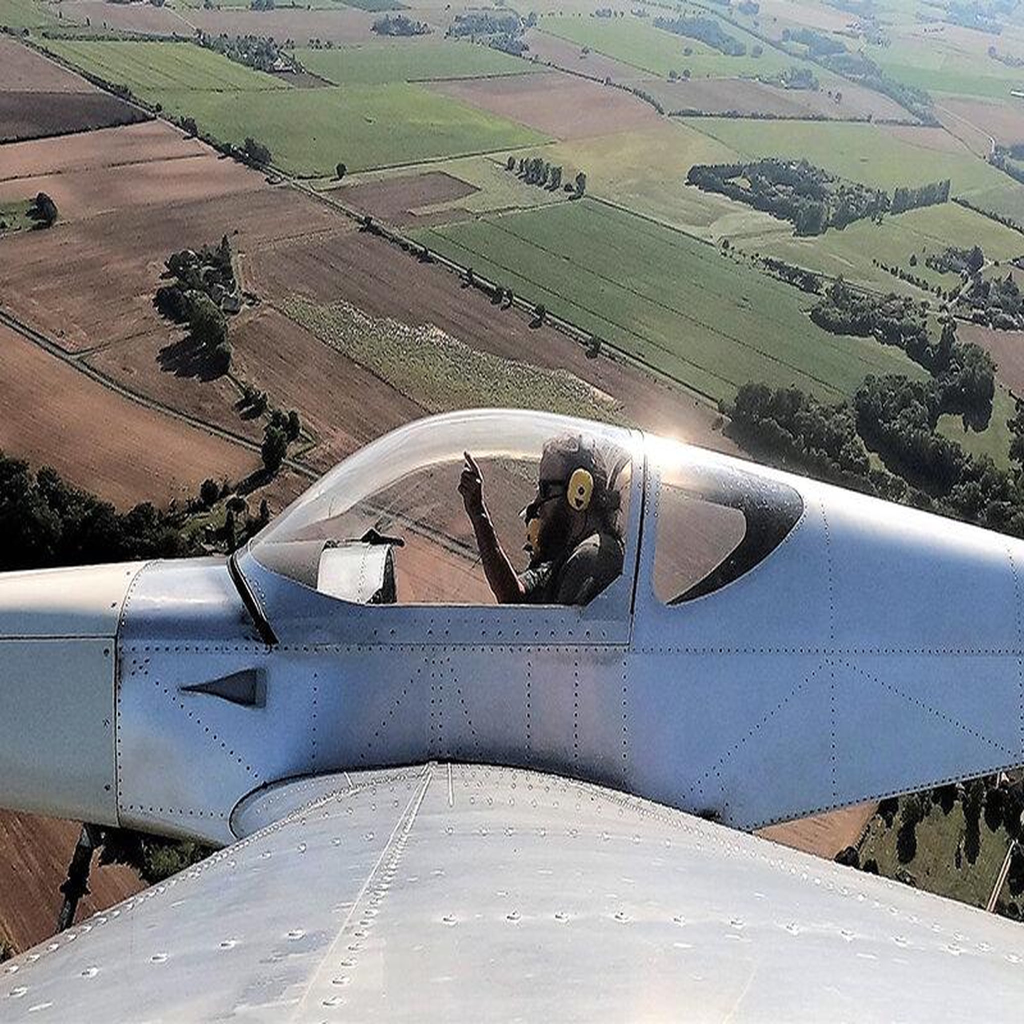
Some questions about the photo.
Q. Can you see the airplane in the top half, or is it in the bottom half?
bottom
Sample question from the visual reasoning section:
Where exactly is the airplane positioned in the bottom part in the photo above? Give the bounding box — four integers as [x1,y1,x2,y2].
[0,411,1024,1024]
